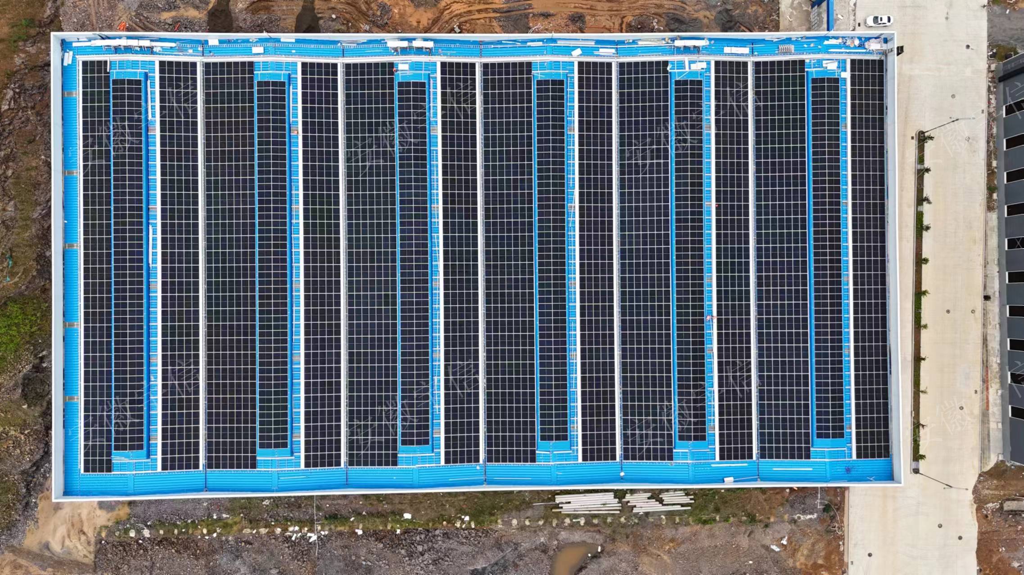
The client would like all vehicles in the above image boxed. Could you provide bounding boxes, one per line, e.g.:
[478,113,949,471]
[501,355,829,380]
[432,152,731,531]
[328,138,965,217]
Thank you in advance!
[864,14,893,28]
